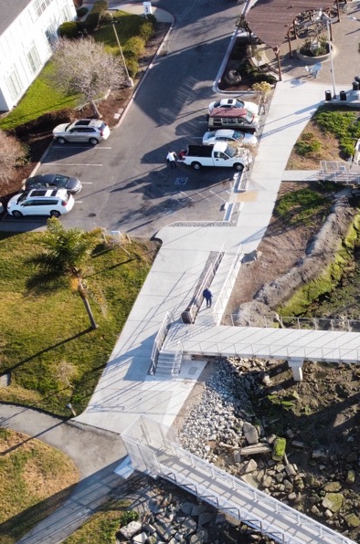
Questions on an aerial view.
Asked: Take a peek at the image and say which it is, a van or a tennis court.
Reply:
van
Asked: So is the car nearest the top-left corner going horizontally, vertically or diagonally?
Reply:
horizontally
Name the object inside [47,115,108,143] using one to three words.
car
